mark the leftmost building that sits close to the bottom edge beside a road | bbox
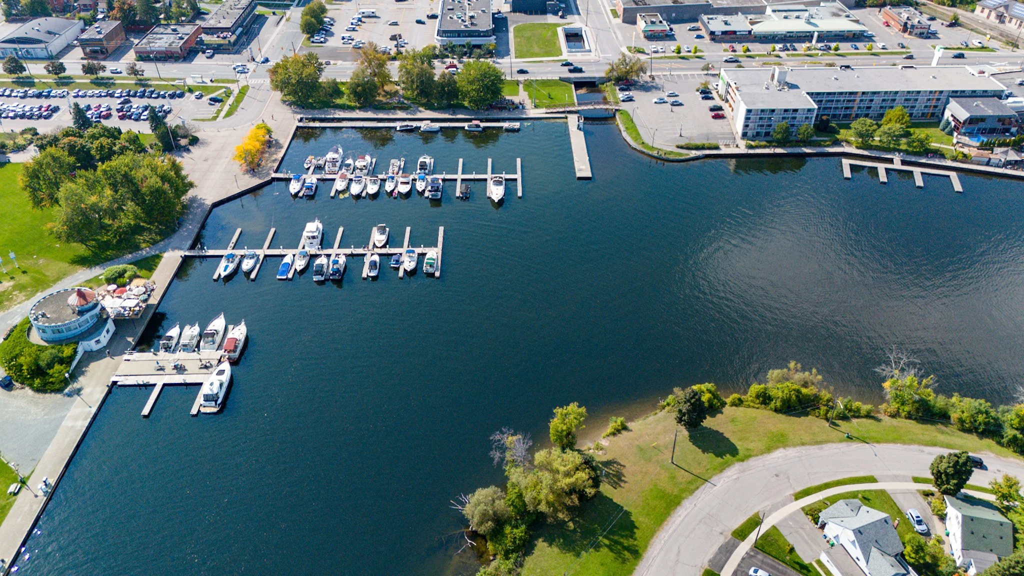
[813,496,912,576]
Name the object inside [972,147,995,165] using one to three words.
shed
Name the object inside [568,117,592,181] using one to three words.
pier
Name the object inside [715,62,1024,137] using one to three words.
building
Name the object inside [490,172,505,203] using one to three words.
boat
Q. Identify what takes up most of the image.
water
